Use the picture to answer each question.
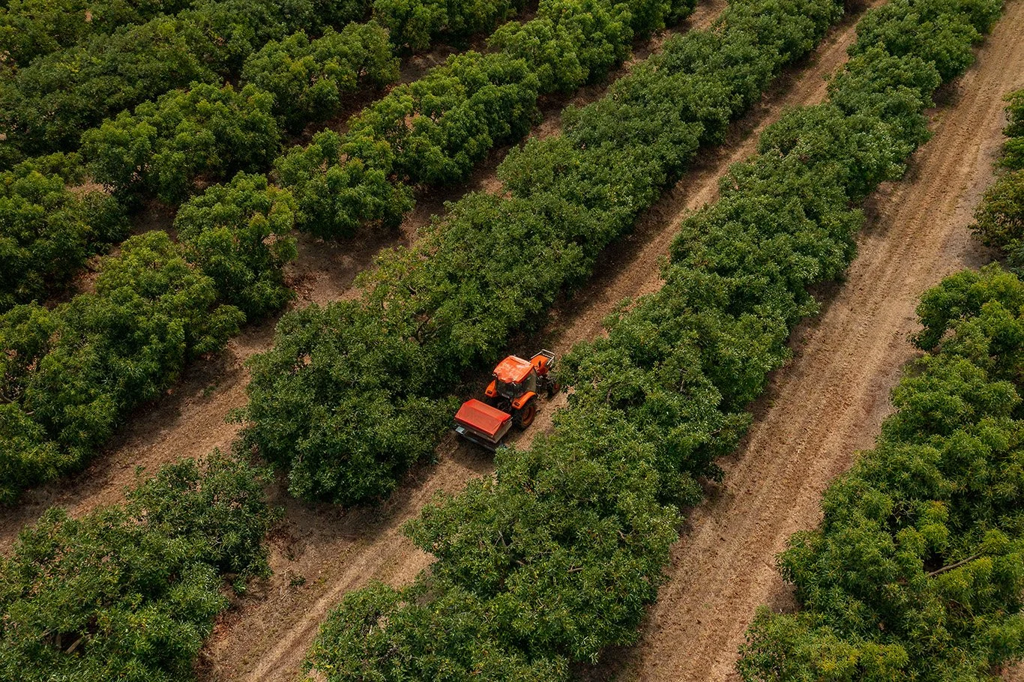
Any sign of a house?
No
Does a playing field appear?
No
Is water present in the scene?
No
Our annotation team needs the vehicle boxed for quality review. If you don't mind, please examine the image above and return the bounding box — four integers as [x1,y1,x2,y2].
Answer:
[481,348,556,432]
